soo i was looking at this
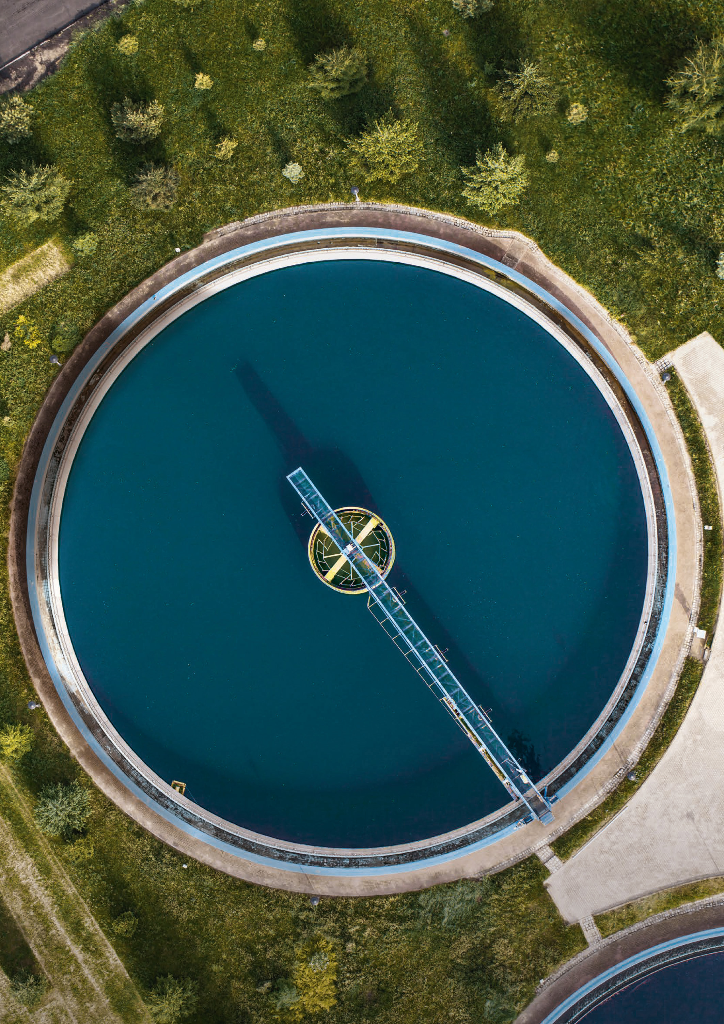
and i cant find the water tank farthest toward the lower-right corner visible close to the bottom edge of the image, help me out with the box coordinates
[535,924,724,1024]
